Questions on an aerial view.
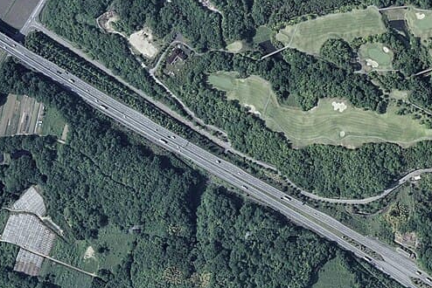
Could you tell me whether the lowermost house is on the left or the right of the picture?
left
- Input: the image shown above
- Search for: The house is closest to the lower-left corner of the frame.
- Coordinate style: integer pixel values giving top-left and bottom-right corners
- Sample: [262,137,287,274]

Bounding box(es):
[14,249,44,275]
